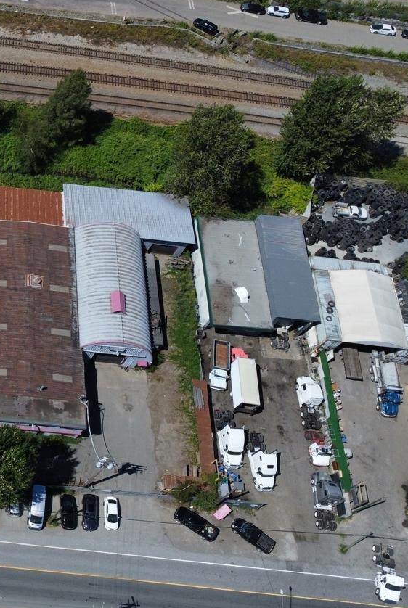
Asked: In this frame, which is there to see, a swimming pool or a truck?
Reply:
truck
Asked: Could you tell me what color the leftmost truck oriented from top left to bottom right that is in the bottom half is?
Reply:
black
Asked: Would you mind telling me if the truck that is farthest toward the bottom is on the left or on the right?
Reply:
right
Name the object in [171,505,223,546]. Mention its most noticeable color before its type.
black truck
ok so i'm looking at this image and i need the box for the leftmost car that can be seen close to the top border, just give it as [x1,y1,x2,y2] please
[194,19,219,35]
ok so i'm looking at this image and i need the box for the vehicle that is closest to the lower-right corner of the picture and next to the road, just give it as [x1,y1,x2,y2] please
[369,542,408,607]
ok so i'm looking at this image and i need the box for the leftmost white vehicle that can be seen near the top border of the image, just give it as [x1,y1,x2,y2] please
[265,6,291,19]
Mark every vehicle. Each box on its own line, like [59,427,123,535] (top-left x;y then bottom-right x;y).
[369,345,405,423]
[231,346,273,420]
[80,493,100,533]
[207,336,232,396]
[295,8,328,25]
[240,0,265,16]
[7,489,25,522]
[400,29,408,40]
[27,481,50,533]
[102,496,121,534]
[246,432,280,495]
[212,408,248,474]
[265,6,291,19]
[368,23,397,36]
[308,470,343,533]
[294,373,328,431]
[330,205,369,222]
[194,19,219,35]
[227,516,280,559]
[171,505,223,546]
[60,493,78,531]
[369,542,408,607]
[300,429,333,471]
